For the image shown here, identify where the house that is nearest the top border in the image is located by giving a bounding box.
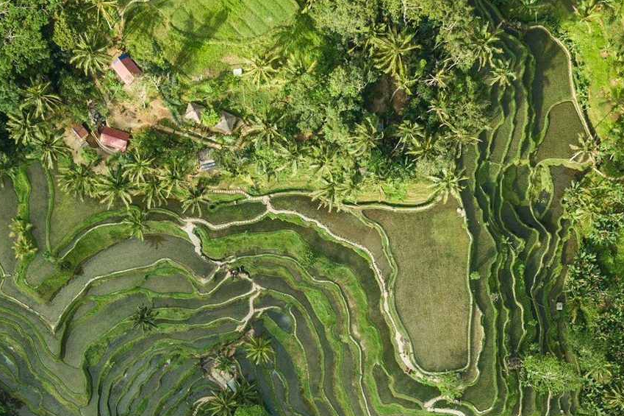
[110,52,144,88]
